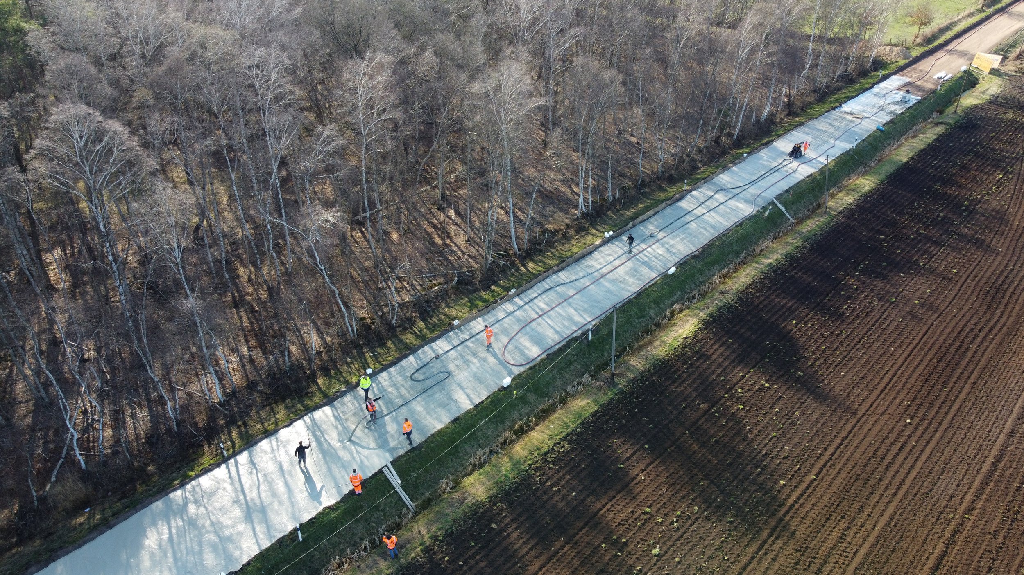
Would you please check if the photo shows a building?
No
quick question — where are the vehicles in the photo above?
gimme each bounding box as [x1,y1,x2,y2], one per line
[792,143,805,159]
